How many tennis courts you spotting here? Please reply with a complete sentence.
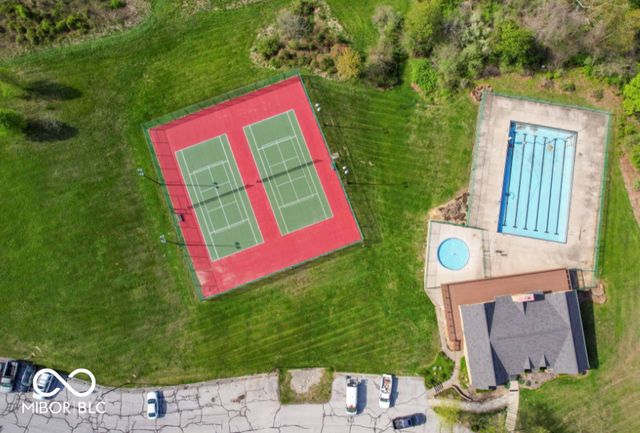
The photo contains 2 tennis courts.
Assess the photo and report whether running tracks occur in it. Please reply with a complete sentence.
No, the photo shows no running track.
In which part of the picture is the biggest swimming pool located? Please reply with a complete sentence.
The biggest swimming pool is in the right part of the image.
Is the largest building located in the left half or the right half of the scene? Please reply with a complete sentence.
The largest building is on the right side of the image.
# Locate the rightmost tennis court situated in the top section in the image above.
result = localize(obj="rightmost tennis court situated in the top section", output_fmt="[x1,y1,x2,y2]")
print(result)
[228,75,361,266]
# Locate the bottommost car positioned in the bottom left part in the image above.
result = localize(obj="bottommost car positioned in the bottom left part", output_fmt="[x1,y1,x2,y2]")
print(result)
[146,391,159,419]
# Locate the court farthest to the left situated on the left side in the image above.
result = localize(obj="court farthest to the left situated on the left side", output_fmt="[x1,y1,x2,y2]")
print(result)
[149,100,287,296]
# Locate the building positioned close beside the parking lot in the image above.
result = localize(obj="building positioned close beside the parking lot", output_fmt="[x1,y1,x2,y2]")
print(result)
[458,289,591,389]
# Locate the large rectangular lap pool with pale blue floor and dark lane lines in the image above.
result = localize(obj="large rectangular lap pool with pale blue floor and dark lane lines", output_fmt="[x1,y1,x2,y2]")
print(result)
[495,119,579,245]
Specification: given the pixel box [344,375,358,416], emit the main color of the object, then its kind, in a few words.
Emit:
white vehicle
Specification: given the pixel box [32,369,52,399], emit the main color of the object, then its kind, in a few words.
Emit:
white vehicle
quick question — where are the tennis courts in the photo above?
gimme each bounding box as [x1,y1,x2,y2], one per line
[149,100,287,296]
[228,75,361,266]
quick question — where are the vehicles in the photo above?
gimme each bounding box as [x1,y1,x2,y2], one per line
[18,365,36,392]
[376,373,394,409]
[344,375,358,416]
[32,369,52,399]
[392,411,428,432]
[146,391,159,419]
[1,359,21,393]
